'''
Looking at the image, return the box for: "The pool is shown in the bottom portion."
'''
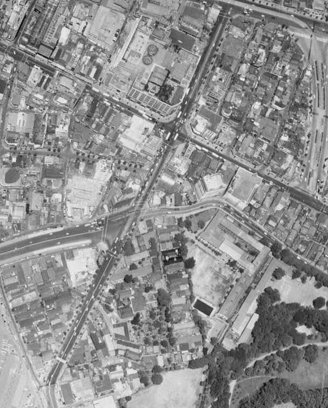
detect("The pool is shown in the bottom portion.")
[192,299,215,317]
